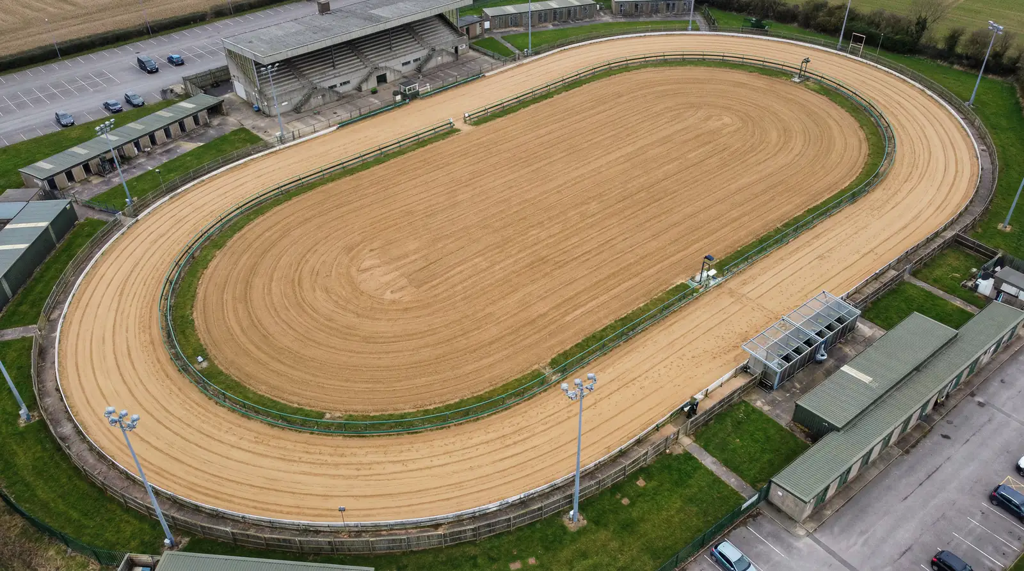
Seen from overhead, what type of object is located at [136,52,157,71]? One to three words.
vehicle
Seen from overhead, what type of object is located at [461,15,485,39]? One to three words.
shed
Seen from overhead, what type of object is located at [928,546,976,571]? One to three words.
car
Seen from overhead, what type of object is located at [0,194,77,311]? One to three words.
shed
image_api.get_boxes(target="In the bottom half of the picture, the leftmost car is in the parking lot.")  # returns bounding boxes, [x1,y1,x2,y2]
[715,539,765,571]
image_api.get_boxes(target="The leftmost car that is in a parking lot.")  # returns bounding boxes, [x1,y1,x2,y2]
[53,110,72,127]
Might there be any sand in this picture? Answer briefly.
Yes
